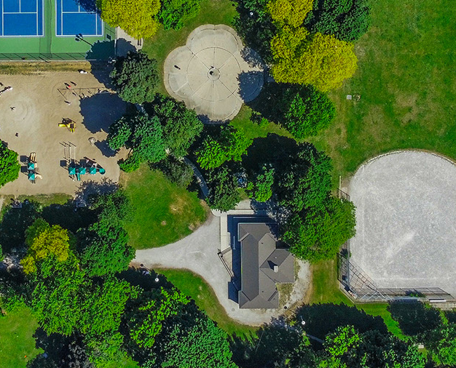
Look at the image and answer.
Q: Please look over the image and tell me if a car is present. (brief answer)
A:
No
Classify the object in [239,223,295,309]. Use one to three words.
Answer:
building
